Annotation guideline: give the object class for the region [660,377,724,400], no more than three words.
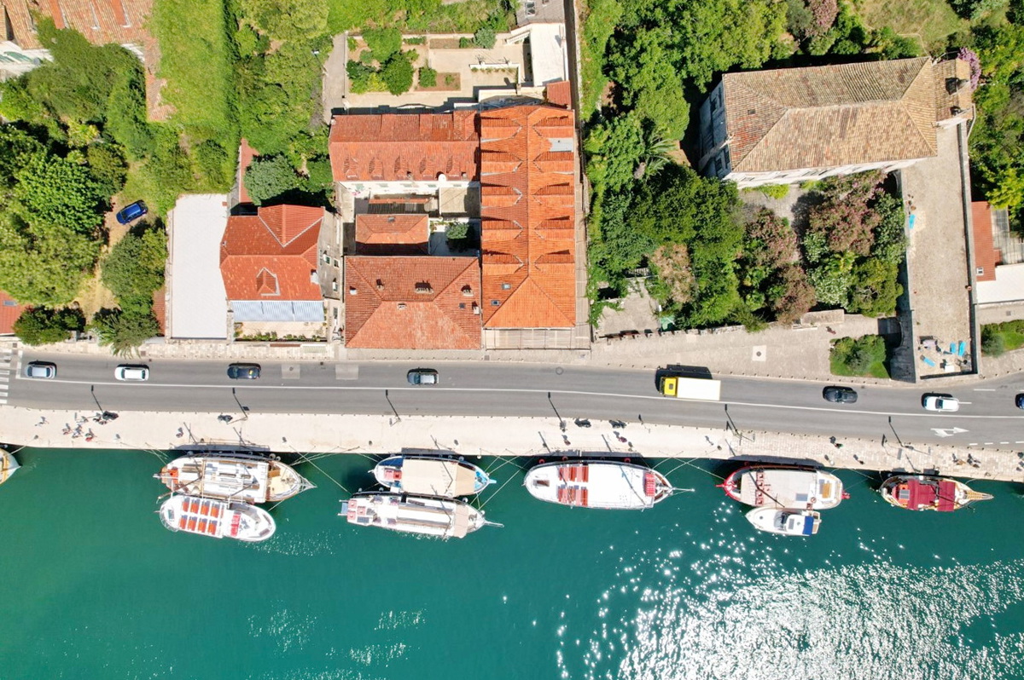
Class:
truck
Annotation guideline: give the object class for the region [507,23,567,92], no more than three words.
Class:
building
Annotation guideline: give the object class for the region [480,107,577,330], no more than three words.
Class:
house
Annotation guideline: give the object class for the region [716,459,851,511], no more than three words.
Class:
boat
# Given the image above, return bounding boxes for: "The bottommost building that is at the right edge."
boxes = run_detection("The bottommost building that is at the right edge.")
[978,265,1024,305]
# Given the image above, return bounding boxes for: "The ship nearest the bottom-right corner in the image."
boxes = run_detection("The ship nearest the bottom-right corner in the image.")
[874,472,994,514]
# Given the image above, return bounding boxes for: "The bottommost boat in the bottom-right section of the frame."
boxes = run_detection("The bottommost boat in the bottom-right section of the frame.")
[743,507,822,535]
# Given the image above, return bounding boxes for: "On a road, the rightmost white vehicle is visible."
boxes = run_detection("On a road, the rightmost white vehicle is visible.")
[920,395,958,412]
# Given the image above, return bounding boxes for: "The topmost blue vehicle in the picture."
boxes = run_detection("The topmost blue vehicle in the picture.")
[117,201,149,224]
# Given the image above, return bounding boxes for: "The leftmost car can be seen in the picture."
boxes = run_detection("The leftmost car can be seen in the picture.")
[27,362,58,378]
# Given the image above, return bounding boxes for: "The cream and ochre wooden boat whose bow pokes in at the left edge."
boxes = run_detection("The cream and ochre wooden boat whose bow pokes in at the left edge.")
[0,443,32,482]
